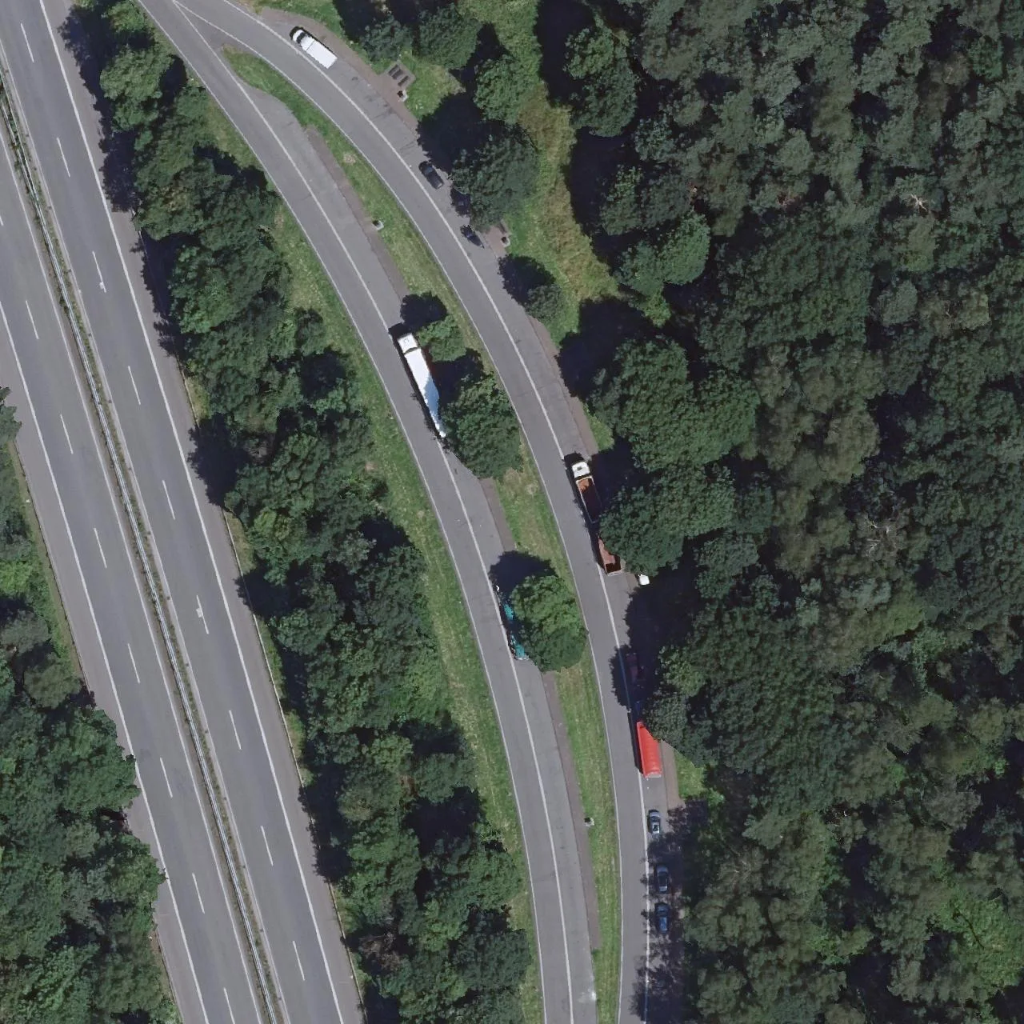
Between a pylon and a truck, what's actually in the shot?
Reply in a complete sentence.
Visible in the photo is a truck.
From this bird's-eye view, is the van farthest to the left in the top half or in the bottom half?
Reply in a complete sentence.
The van farthest to the left sits in the top half of the picture.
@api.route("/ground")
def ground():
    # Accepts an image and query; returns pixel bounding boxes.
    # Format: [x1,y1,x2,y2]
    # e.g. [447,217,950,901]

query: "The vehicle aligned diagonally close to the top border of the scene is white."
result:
[294,29,337,68]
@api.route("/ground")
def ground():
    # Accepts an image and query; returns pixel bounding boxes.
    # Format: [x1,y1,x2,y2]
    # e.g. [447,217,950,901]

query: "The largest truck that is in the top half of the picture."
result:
[395,332,454,437]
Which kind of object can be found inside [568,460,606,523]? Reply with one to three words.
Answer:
truck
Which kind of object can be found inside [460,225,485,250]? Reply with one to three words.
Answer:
car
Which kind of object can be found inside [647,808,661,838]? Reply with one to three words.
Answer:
car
